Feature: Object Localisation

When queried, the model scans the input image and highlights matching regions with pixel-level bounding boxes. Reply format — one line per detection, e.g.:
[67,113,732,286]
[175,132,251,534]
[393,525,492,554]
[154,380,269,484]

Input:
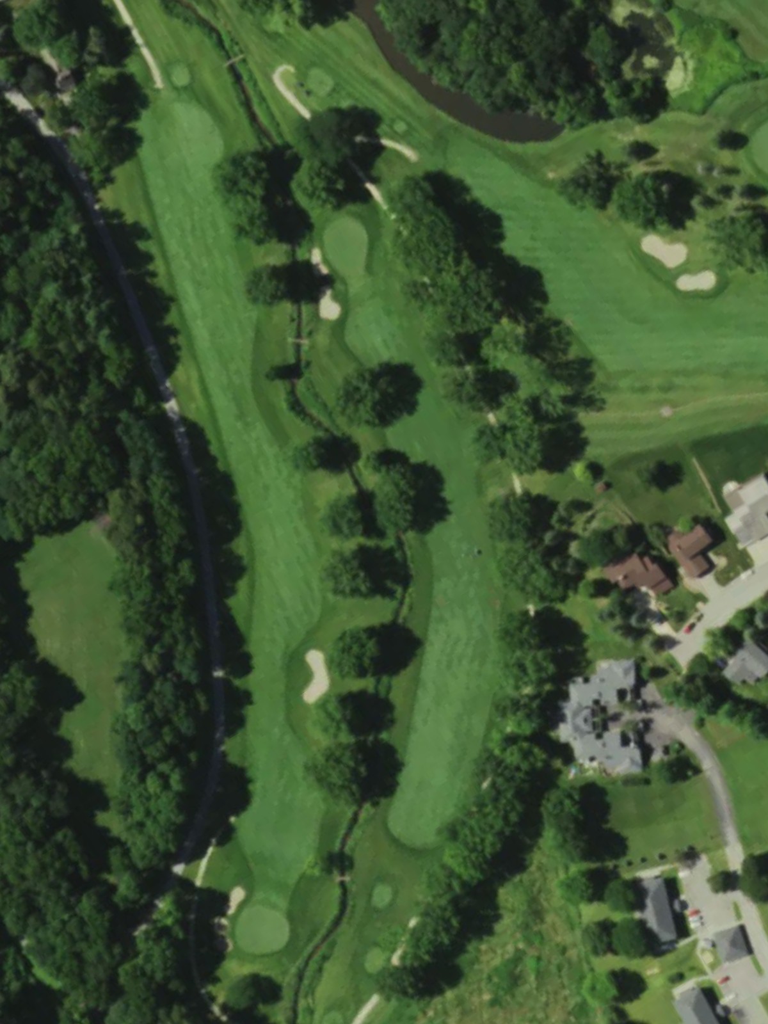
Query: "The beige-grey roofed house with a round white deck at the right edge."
[724,474,768,546]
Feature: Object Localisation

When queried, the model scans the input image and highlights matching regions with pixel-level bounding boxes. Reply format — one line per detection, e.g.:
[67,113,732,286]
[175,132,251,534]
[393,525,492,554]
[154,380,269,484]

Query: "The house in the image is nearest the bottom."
[676,988,721,1024]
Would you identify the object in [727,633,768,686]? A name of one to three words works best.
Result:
house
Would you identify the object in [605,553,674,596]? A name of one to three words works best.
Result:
house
